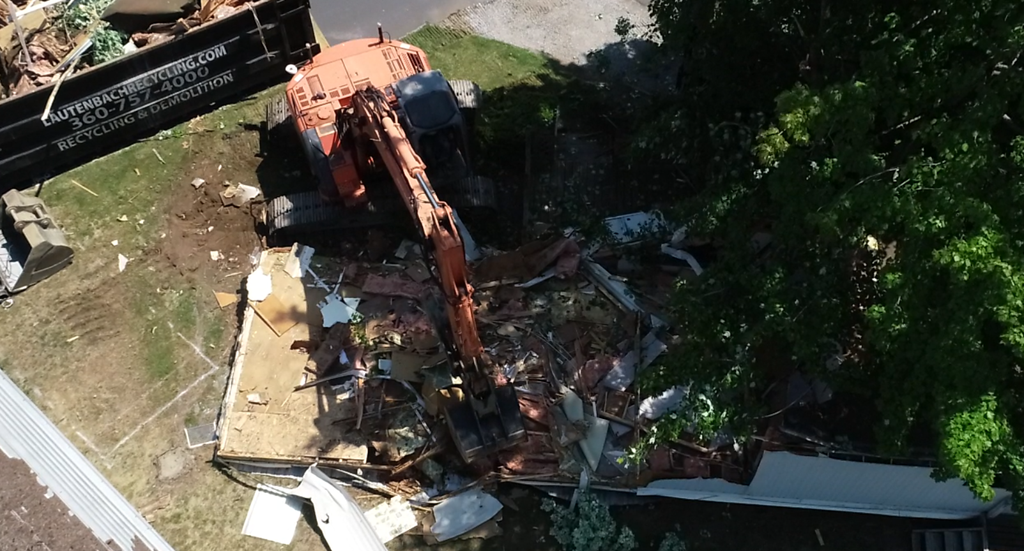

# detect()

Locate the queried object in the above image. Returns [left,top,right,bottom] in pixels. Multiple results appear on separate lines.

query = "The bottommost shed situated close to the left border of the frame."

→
[0,368,171,551]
